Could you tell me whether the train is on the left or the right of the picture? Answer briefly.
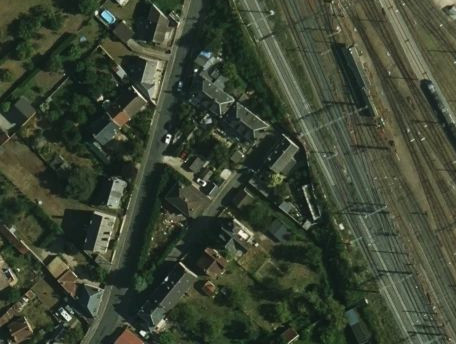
right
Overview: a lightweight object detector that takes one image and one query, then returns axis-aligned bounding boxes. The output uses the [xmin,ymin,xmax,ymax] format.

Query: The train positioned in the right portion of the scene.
[427,81,456,134]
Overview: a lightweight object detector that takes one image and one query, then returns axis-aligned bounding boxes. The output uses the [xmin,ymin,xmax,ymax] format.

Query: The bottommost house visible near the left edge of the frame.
[2,313,33,344]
